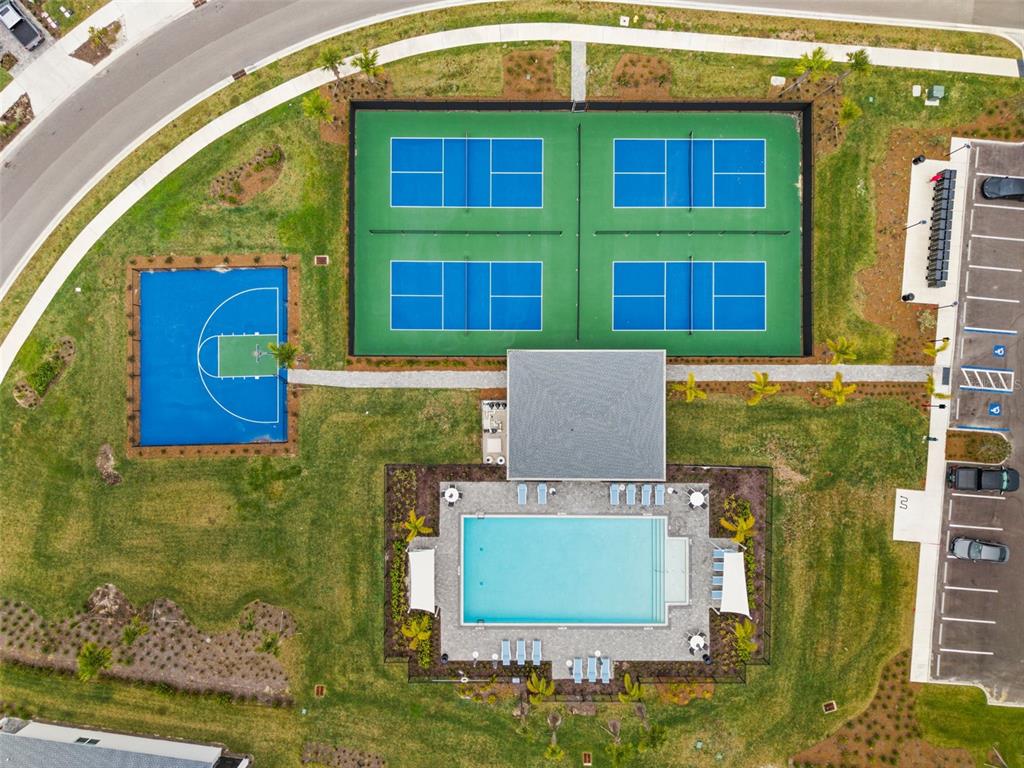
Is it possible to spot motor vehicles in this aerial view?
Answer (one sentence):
Yes, there's a motor vehicle down there.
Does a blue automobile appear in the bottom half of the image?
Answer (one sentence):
No, in the bottom half of the image there is no blue automobile.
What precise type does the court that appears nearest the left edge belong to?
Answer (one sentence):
From above, the court that appears nearest the left edge can be identified as a basketball court.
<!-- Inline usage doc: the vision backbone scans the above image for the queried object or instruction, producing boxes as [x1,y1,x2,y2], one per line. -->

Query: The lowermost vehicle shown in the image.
[949,536,1010,563]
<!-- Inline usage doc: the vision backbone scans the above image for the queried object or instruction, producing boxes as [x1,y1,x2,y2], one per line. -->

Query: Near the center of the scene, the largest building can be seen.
[507,349,667,481]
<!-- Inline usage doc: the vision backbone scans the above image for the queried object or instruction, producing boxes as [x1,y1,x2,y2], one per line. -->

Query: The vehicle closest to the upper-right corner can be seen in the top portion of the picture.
[980,174,1024,202]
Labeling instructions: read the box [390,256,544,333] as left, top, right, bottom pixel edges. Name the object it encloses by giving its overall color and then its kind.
blue sports court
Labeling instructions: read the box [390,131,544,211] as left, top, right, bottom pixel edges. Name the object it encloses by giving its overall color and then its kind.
blue sports court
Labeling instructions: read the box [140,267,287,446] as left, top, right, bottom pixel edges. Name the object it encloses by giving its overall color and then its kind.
blue basketball court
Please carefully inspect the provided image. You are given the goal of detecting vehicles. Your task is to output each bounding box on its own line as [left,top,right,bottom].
[980,174,1024,202]
[0,0,48,53]
[946,466,1020,494]
[949,536,1010,563]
